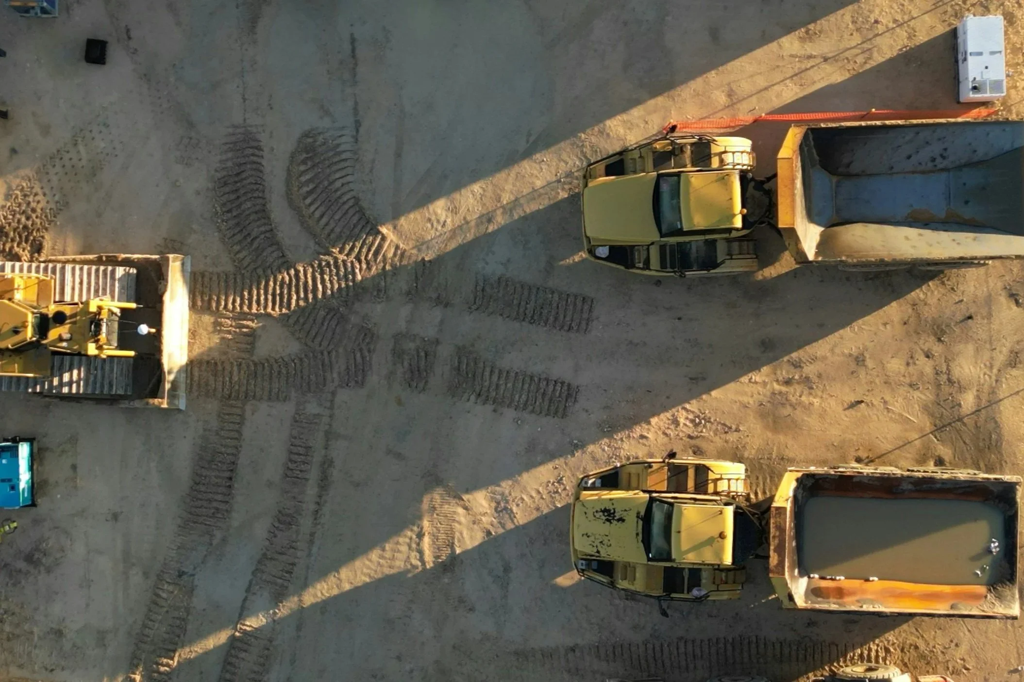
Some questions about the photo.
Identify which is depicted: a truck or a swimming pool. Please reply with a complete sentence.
Of the two, only a truck appears.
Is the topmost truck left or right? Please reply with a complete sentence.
The topmost truck appears in the right half of the scene.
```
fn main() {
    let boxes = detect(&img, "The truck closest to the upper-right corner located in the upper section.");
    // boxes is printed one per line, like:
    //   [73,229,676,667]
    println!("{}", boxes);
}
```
[576,111,1024,288]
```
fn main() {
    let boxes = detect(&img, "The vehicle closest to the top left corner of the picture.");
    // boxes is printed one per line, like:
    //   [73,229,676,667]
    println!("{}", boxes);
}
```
[0,254,190,412]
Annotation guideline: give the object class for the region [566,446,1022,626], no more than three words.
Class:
truck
